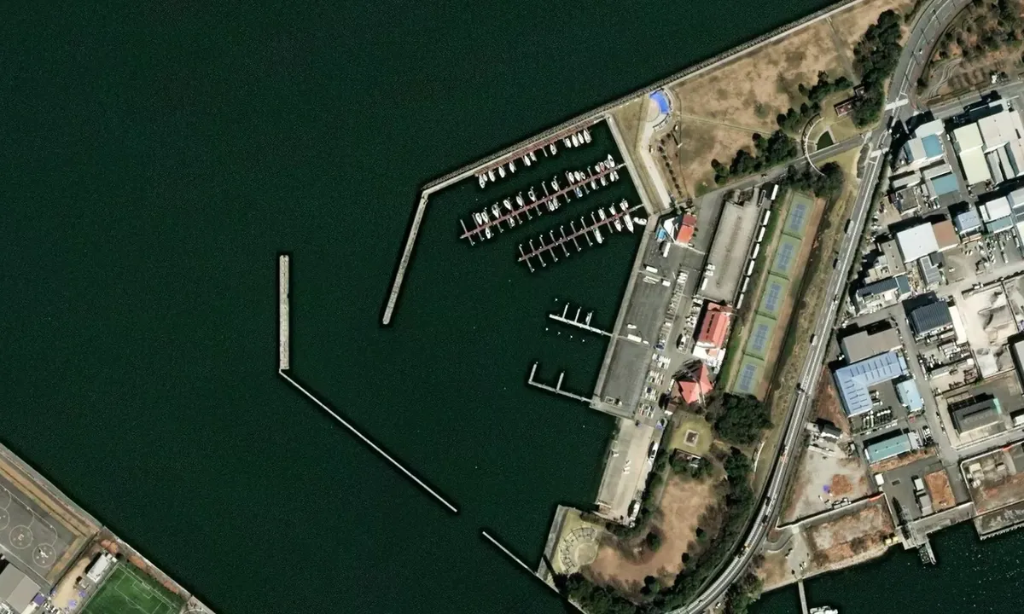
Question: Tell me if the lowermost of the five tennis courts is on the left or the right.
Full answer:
The lowermost of the five tennis courts is on the right side of the image.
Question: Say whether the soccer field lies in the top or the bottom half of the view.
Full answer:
You can find the soccer field in the bottom half.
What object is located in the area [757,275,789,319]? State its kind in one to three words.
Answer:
tennis court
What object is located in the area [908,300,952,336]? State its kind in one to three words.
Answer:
building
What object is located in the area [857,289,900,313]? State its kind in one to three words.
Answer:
building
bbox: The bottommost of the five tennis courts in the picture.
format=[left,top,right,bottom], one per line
[732,356,763,398]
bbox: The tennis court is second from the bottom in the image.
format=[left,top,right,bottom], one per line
[745,315,776,360]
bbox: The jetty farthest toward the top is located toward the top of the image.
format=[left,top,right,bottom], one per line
[476,123,595,180]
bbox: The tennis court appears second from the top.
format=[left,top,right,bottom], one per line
[770,235,801,279]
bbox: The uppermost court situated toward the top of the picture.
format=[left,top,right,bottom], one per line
[783,193,813,239]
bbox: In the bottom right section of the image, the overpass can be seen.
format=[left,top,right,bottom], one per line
[675,347,824,614]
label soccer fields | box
[82,560,188,614]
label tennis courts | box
[745,315,776,360]
[757,275,789,319]
[770,235,801,279]
[732,356,763,398]
[783,193,813,239]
